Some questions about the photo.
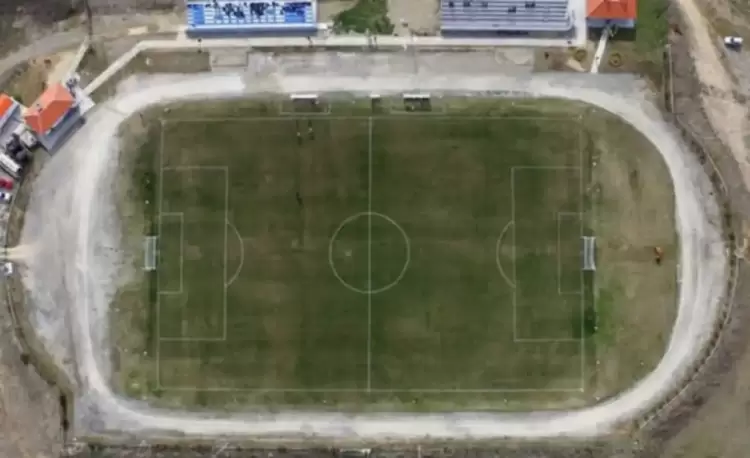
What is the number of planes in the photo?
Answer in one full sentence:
There are no planes in this view.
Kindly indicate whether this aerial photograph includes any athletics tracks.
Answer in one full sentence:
Yes, the picture does show an athletics track.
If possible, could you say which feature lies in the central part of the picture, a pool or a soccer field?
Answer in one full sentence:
The one visible in the central part of the picture is a soccer field.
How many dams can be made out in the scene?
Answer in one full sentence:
There are no dams in this view.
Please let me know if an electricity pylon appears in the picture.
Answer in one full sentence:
No, no electricity pylon can be seen from above.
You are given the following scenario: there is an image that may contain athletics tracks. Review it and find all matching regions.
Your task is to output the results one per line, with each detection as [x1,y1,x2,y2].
[71,76,721,440]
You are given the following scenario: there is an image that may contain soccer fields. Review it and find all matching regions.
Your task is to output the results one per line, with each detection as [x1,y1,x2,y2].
[155,112,587,396]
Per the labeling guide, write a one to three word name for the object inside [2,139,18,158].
car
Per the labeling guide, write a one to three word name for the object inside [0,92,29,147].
house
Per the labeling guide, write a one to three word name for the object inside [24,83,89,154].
house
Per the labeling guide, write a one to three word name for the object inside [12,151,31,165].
vehicle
